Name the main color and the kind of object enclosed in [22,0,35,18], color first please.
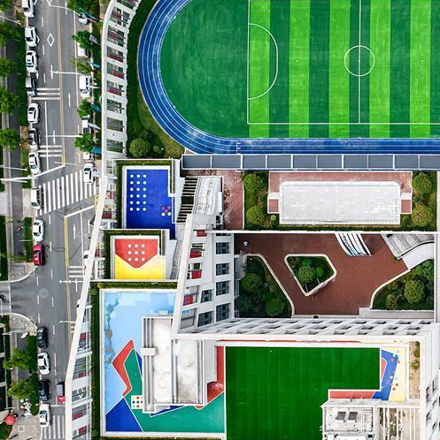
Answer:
white vehicle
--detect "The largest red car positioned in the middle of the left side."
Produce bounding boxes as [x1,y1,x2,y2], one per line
[34,244,47,266]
